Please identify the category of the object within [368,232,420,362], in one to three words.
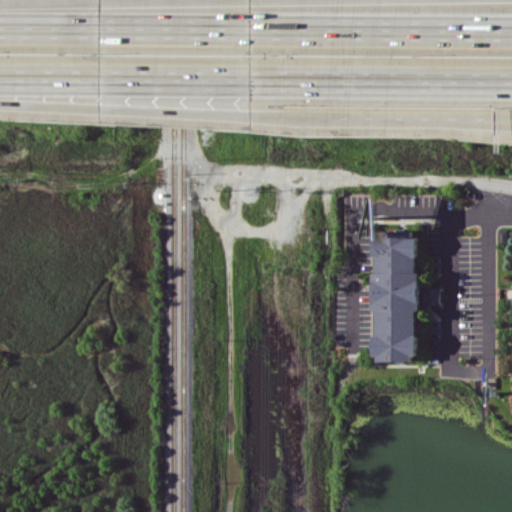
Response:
building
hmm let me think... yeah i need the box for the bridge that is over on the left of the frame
[98,0,248,134]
